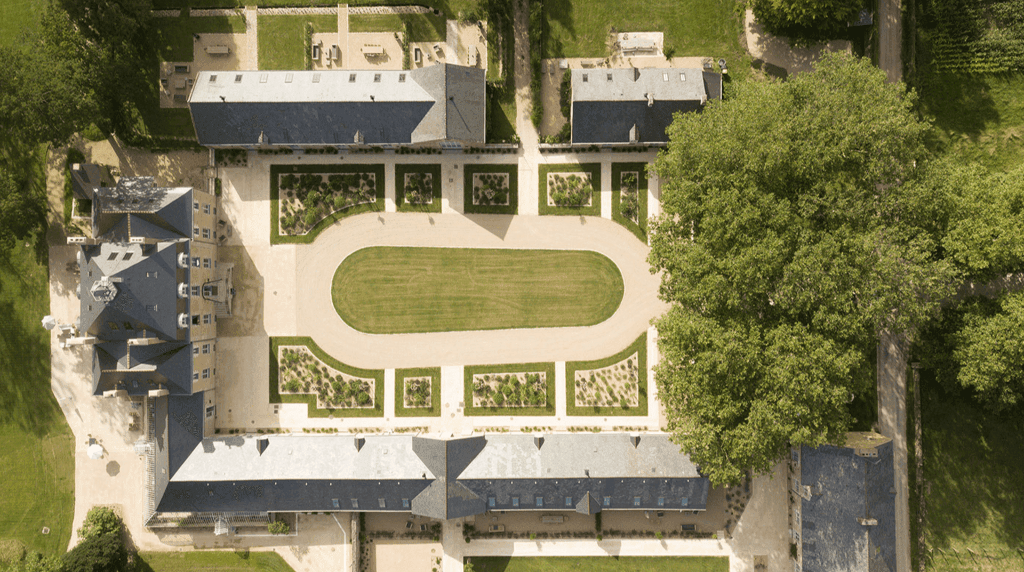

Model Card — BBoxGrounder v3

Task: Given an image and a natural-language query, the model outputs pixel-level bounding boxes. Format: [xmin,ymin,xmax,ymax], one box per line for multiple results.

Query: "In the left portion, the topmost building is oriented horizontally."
[187,61,487,148]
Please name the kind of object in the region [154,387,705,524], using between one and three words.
building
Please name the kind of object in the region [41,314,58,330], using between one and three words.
umbrella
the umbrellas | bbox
[41,314,58,330]
[88,444,104,459]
